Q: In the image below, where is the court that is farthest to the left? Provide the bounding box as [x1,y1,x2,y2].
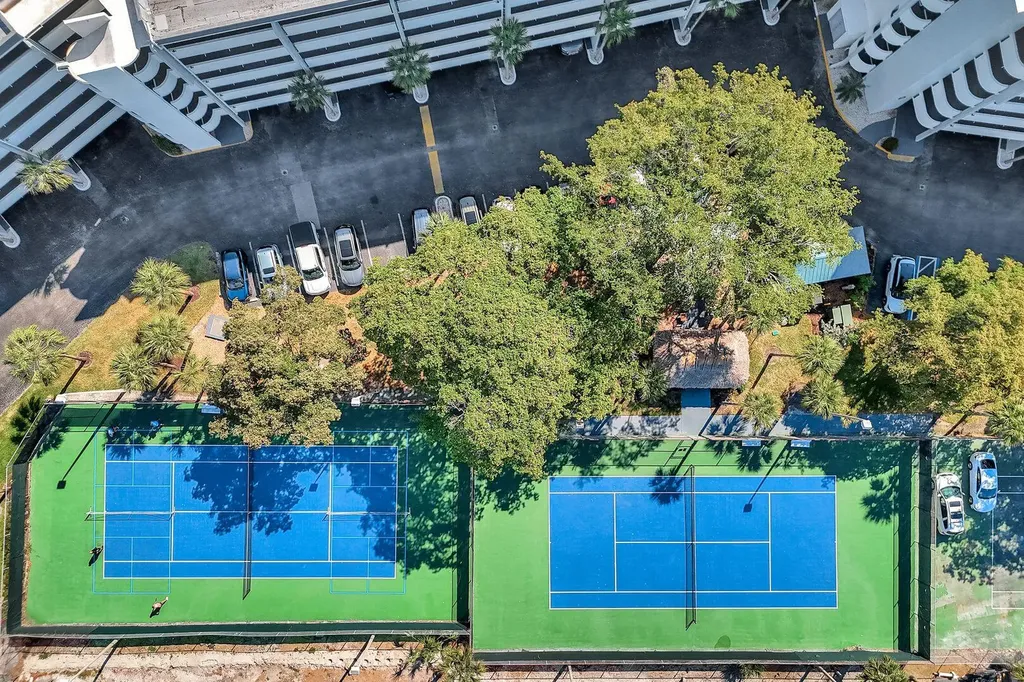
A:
[28,404,472,625]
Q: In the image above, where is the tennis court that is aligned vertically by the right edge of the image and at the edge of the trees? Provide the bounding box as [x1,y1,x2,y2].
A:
[931,438,1024,655]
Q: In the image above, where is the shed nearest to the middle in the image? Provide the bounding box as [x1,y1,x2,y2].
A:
[650,321,753,394]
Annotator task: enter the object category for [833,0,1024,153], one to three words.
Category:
building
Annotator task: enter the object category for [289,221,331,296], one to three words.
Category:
truck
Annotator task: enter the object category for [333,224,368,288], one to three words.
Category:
car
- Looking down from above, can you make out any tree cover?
Yes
